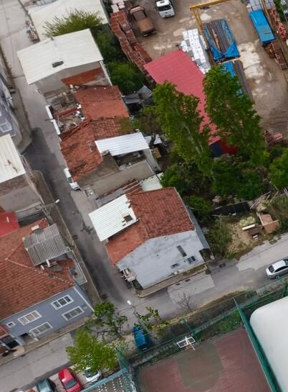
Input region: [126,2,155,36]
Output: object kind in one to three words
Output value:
truck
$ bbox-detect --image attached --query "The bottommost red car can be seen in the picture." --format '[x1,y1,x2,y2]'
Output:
[57,366,83,392]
